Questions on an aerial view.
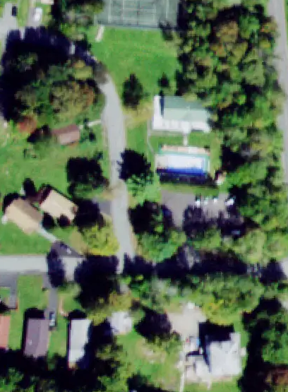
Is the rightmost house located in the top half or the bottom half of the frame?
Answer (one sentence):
The bottom half of the photo is where the rightmost house is.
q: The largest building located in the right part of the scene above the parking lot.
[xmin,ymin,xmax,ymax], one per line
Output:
[153,95,211,130]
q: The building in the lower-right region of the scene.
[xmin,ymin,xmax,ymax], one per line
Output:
[185,329,247,384]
